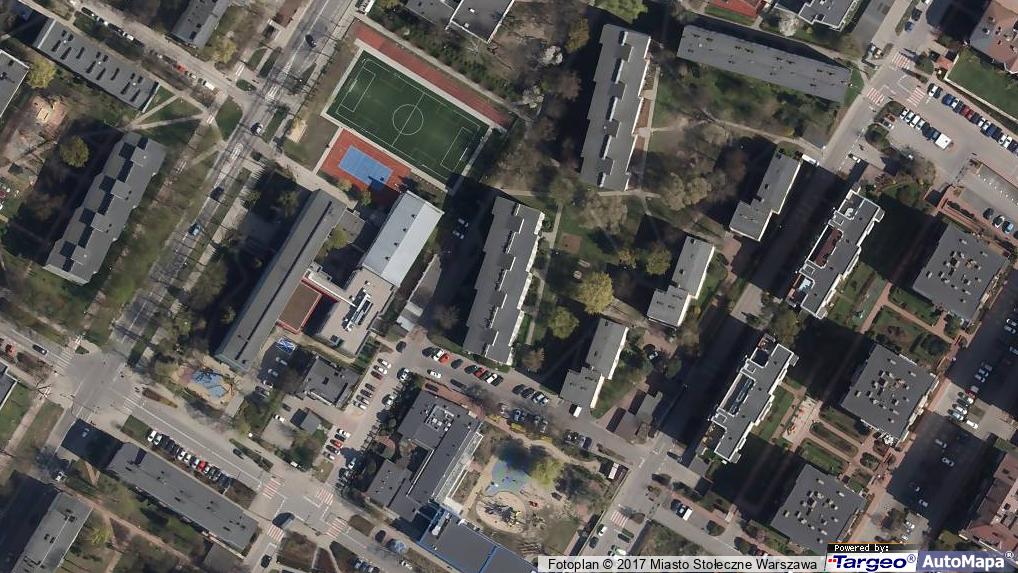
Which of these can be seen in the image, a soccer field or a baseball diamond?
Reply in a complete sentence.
The one in the frame is a soccer field.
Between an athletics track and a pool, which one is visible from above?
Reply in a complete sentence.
This aerial view contains an athletics track.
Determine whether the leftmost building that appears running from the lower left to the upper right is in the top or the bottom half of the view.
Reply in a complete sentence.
It is in the bottom half that the leftmost building that appears running from the lower left to the upper right appears.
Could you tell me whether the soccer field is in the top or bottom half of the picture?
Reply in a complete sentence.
The soccer field is in the top half of the image.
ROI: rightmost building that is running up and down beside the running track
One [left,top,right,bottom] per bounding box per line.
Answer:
[580,25,652,193]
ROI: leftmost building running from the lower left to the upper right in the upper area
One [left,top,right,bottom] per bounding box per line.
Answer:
[48,132,170,284]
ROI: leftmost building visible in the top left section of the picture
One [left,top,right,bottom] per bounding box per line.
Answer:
[0,51,31,116]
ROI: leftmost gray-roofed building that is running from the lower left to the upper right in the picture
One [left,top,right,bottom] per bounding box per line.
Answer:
[12,492,96,573]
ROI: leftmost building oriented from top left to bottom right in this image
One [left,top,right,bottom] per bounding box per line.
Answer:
[35,17,160,111]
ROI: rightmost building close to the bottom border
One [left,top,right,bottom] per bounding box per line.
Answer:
[957,444,1018,571]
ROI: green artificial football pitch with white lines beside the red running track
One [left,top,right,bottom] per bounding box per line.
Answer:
[316,41,500,200]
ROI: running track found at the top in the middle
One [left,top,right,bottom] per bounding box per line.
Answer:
[353,22,509,126]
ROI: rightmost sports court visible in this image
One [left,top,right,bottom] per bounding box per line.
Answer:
[314,126,410,214]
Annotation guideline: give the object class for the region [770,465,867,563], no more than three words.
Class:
building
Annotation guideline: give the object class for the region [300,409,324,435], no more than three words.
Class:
shed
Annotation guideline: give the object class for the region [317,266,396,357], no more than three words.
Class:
building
